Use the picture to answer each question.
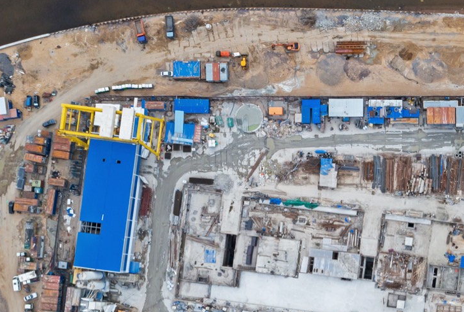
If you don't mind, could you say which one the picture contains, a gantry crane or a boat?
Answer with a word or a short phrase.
gantry crane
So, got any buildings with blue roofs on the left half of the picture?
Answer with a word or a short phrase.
Yes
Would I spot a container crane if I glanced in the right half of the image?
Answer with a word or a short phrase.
No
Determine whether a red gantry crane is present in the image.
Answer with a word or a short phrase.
No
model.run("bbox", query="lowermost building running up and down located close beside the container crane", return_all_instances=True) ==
[73,140,148,274]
